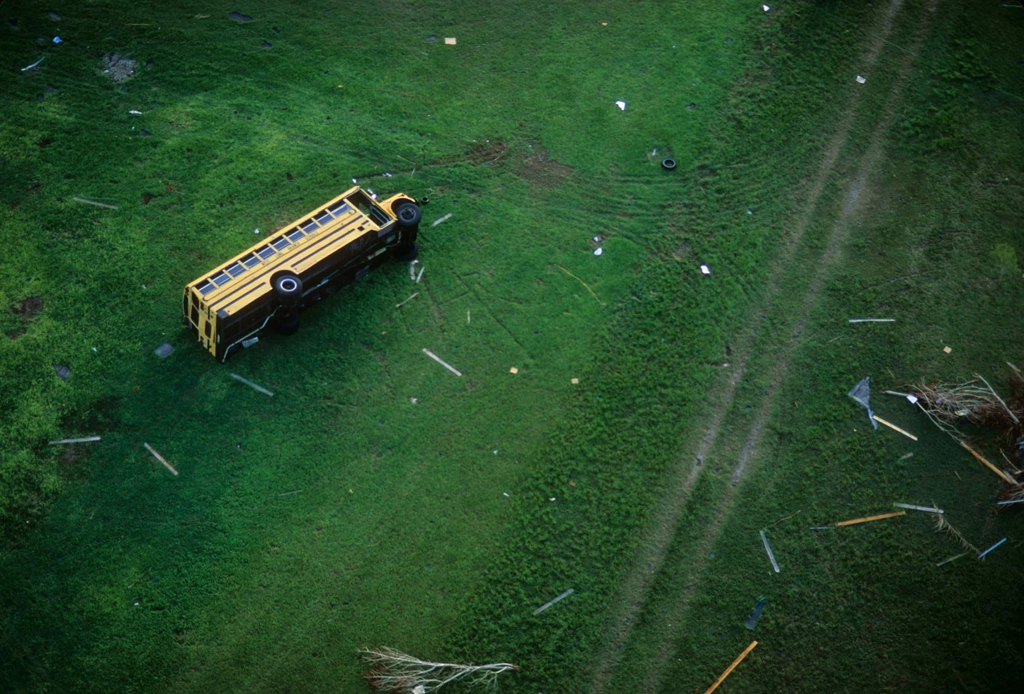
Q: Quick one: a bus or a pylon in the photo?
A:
bus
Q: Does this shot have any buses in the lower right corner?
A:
No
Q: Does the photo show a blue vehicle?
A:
No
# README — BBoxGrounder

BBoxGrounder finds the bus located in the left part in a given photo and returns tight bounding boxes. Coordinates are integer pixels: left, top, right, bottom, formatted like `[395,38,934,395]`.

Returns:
[182,185,424,363]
